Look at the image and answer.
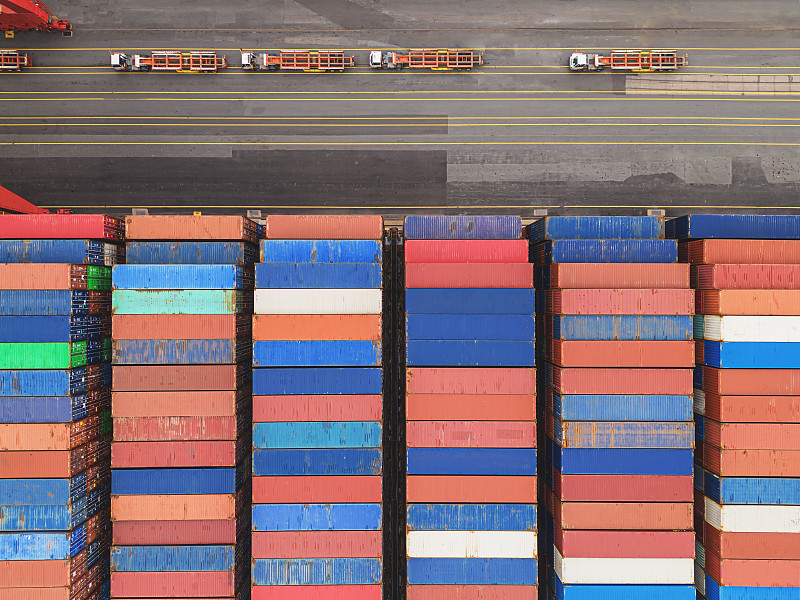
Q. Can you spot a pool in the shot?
No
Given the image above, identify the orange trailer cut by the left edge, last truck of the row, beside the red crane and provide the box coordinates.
[0,51,30,73]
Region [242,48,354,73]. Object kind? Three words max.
truck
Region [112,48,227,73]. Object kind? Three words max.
truck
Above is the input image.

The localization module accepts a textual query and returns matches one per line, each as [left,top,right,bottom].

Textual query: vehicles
[0,51,30,73]
[371,47,482,71]
[573,48,685,73]
[112,48,227,73]
[242,48,354,73]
